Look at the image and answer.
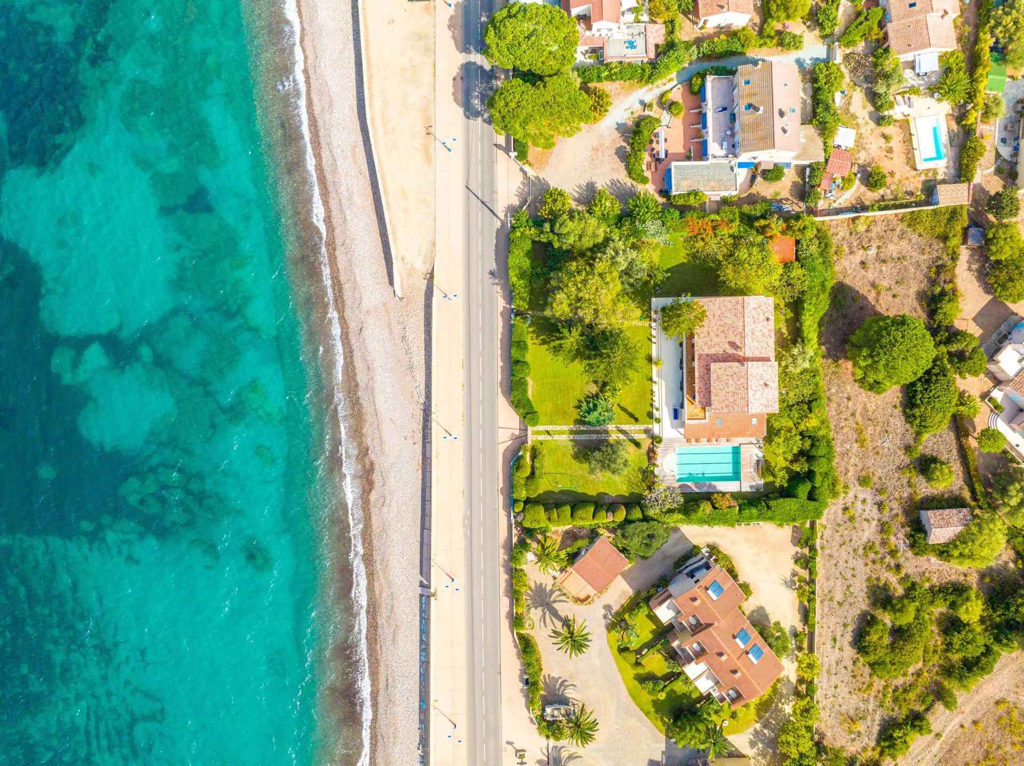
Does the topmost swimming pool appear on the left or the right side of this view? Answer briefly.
right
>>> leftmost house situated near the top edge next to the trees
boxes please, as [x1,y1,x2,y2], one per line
[570,0,665,65]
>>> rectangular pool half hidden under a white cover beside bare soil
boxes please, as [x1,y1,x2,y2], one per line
[910,110,951,170]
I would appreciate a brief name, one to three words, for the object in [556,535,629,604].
house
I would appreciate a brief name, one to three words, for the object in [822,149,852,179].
shed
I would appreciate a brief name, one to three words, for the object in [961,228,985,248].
shed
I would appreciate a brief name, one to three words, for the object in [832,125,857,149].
umbrella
